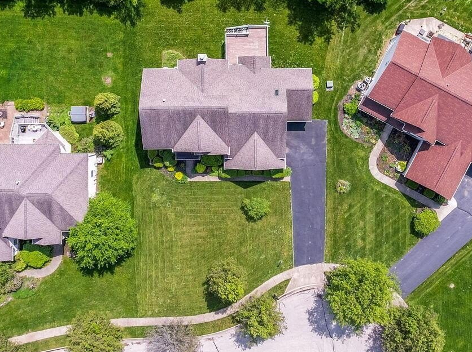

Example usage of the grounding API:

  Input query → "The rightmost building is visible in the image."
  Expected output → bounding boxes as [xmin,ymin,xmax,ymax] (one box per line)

[358,30,472,200]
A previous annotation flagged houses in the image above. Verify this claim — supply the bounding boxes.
[139,54,314,171]
[358,30,472,200]
[0,129,94,264]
